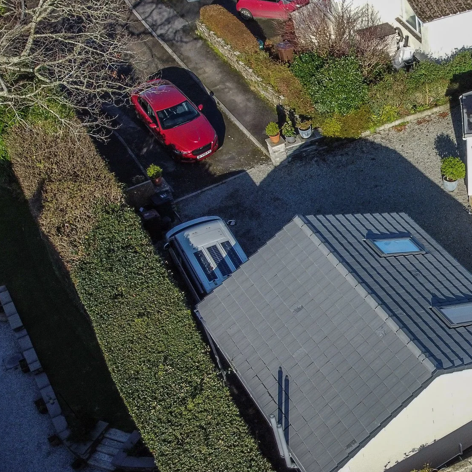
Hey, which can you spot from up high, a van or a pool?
van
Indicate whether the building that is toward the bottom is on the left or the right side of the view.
right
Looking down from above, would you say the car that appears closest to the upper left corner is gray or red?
red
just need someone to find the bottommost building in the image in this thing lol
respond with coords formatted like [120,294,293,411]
[193,210,472,472]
